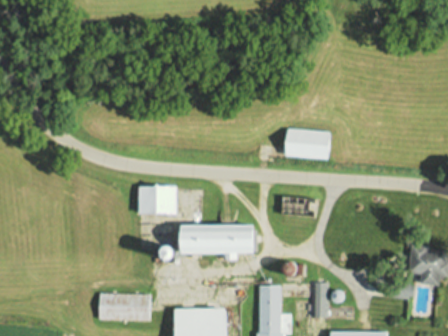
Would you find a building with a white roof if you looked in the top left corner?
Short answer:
No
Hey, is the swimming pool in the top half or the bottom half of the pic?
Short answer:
bottom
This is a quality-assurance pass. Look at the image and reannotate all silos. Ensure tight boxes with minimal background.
[332,290,346,304]
[158,245,175,262]
[284,262,308,277]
